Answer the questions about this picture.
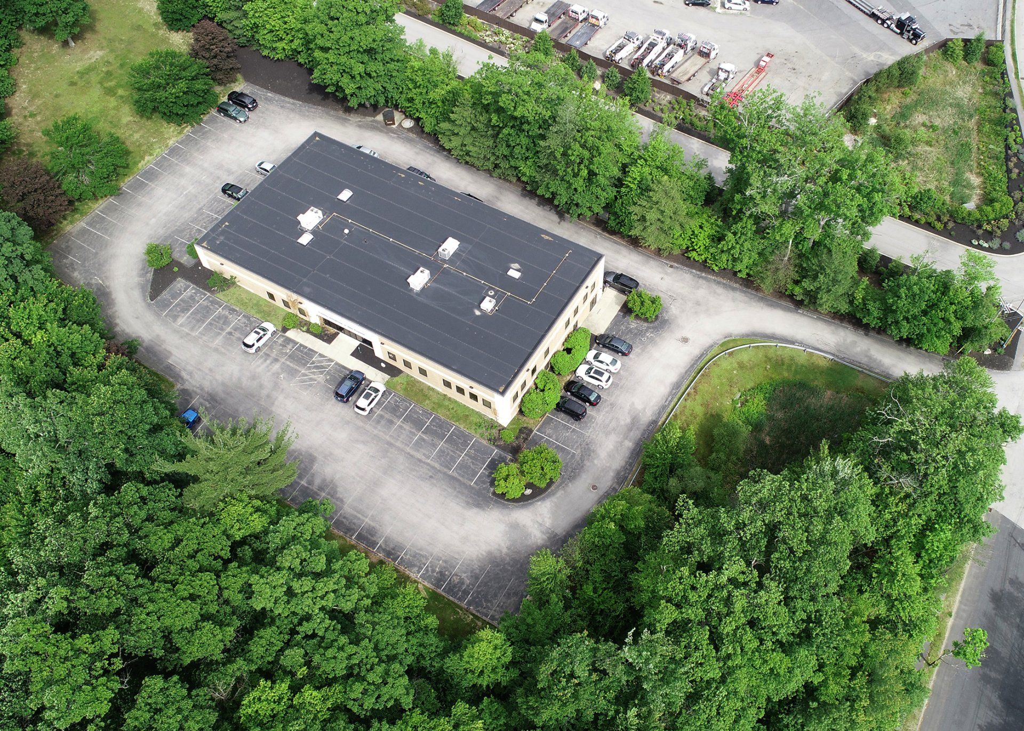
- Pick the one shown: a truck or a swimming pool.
truck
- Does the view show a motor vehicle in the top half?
Yes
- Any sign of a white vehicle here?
Yes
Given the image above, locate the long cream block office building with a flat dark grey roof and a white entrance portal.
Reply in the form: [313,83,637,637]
[194,131,606,427]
